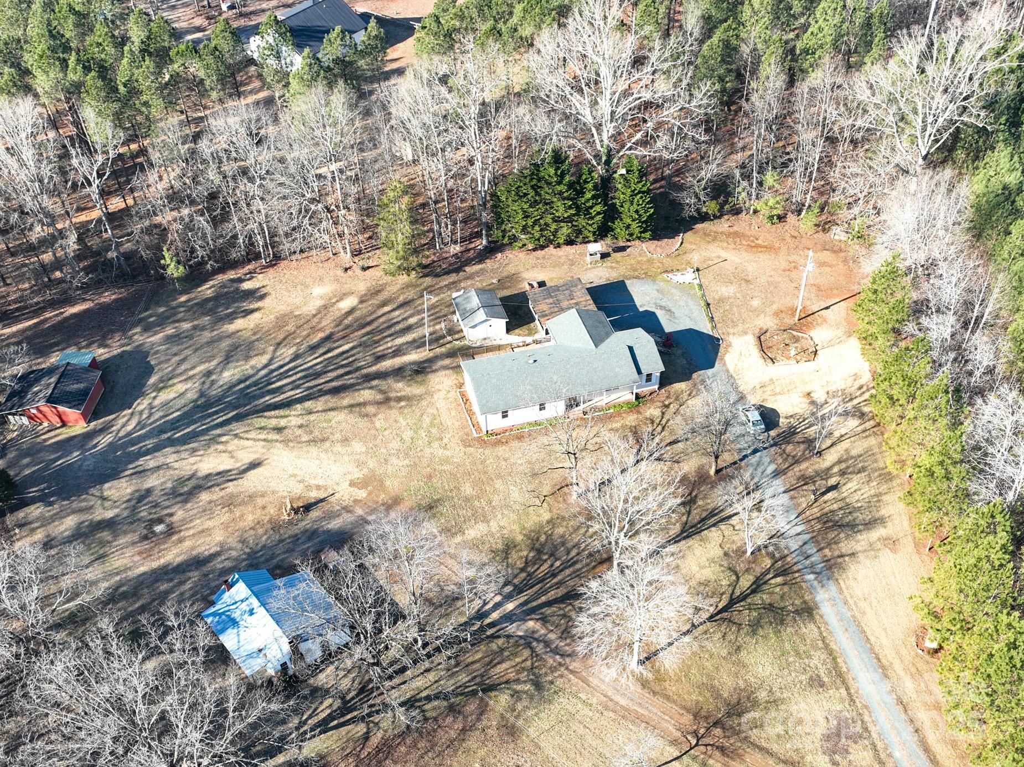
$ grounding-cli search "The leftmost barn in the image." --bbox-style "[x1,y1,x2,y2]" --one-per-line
[0,352,103,426]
